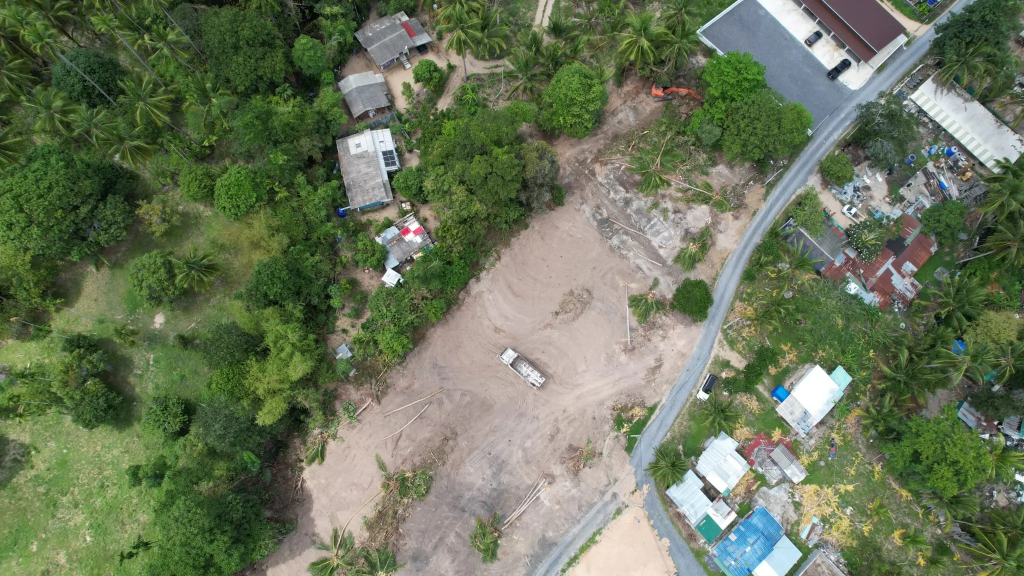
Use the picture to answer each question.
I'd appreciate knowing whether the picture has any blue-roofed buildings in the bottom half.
Yes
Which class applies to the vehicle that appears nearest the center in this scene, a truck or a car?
truck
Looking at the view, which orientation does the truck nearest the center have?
diagonally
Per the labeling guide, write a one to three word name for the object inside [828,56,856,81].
truck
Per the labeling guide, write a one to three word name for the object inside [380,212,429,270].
shed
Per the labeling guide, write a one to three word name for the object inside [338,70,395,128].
house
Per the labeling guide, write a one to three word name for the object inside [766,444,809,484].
building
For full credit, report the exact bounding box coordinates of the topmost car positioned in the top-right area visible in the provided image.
[804,26,828,47]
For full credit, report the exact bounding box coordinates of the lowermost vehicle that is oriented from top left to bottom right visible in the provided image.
[494,344,547,393]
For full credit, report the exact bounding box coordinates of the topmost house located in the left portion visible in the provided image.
[355,11,431,77]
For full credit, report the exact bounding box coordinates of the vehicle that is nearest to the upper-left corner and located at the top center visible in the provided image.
[415,43,432,60]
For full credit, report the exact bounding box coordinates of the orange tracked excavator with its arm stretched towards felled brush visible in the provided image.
[653,85,701,105]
